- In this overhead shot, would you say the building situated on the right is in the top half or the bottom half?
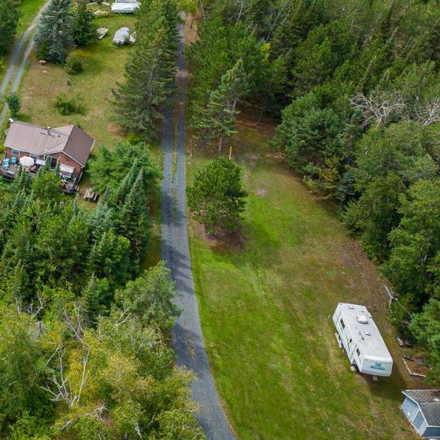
bottom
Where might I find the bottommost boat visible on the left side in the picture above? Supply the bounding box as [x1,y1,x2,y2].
[115,27,133,49]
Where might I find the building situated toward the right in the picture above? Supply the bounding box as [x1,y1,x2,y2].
[398,386,440,440]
